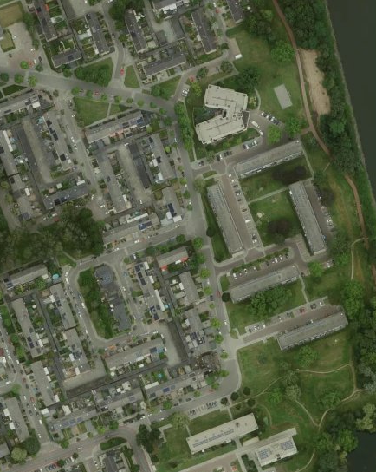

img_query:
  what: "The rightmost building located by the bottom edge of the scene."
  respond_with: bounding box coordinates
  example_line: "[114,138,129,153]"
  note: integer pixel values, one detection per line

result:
[251,429,297,467]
